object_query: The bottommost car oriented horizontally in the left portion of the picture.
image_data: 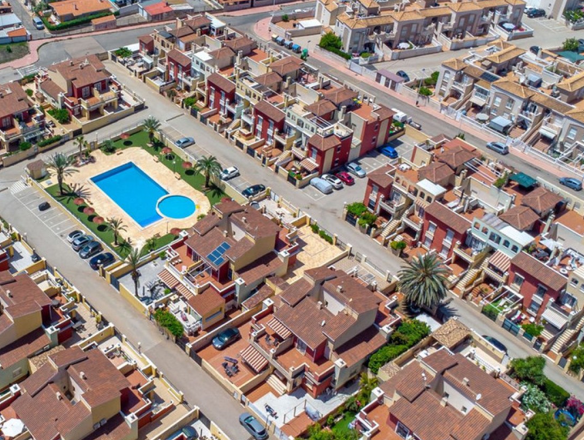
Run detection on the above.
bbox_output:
[167,425,202,440]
